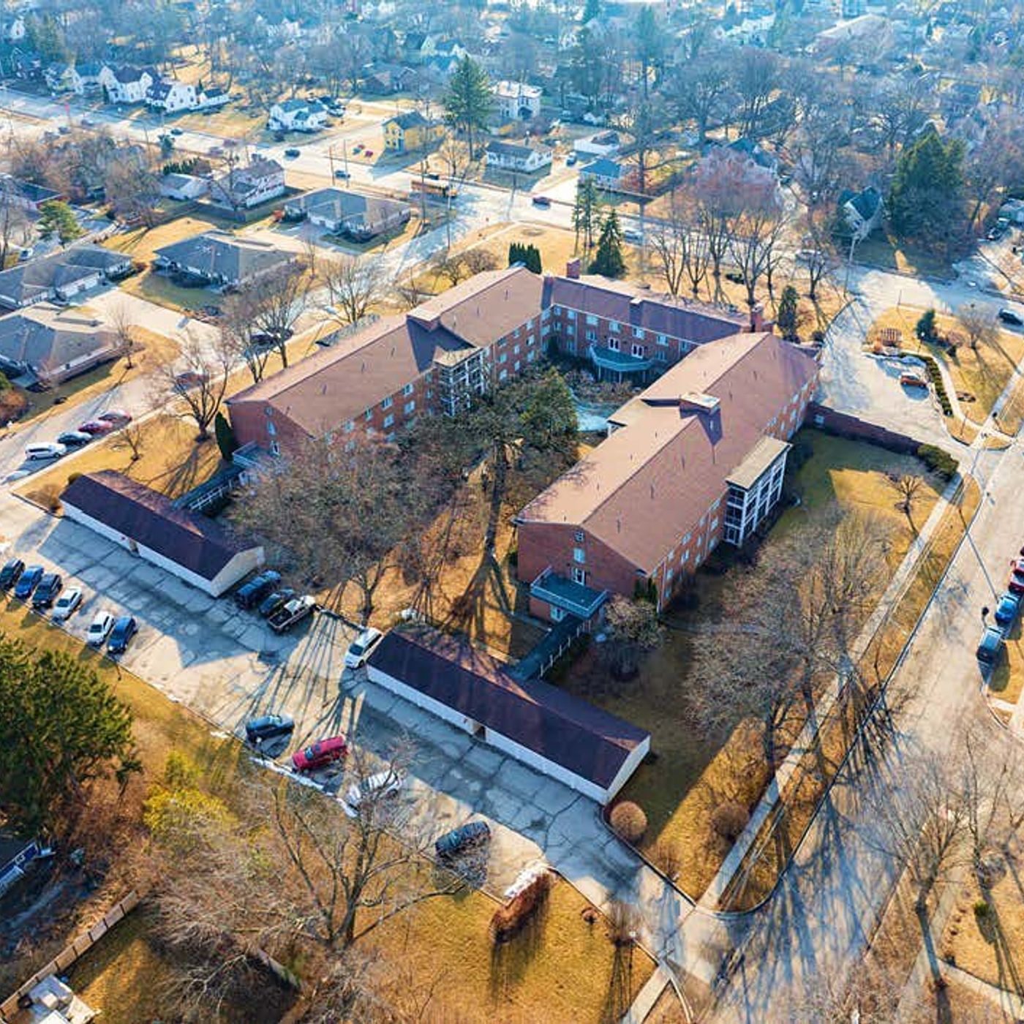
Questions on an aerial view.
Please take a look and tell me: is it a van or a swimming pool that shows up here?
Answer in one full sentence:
It is a van that can be seen here.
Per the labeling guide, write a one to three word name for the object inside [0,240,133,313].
house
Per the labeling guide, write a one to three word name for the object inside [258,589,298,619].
car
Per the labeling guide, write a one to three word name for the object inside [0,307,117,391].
house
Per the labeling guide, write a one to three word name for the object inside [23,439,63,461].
vehicle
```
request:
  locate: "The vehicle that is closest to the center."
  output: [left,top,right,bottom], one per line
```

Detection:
[342,627,385,668]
